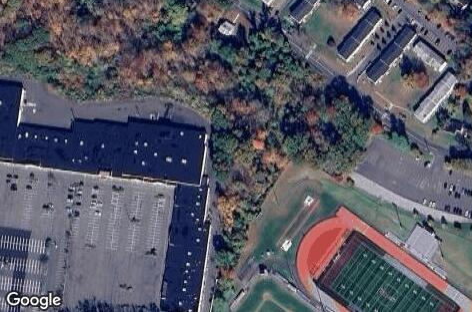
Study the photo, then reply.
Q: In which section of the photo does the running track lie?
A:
bottom right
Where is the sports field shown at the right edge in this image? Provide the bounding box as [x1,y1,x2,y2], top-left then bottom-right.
[314,230,455,312]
